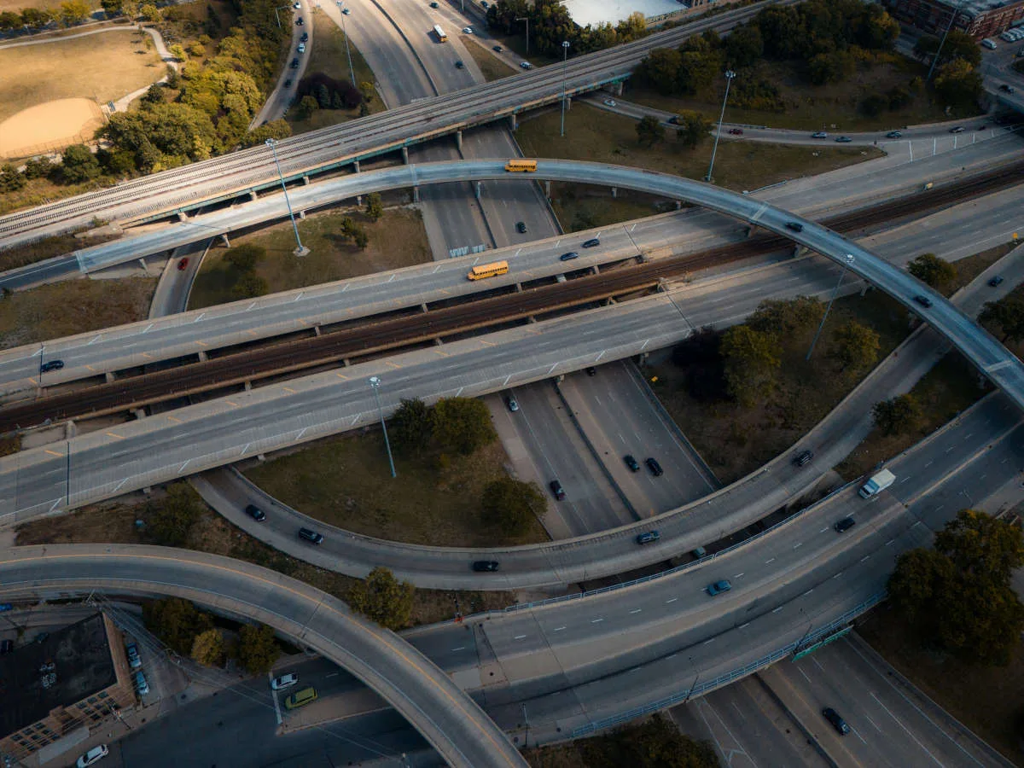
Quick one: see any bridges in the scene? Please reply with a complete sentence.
Yes, the picture does show a bridge.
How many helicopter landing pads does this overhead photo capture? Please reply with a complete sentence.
The picture shows no helicopter landing pads.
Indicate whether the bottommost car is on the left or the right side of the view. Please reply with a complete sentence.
You can find the bottommost car on the left side of the picture.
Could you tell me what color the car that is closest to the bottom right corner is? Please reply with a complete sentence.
The car that is closest to the bottom right corner looks black in the image.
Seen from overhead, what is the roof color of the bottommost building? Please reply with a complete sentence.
The color of the roof on the bottommost building is black.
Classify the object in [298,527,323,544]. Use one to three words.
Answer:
car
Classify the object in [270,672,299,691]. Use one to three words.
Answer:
car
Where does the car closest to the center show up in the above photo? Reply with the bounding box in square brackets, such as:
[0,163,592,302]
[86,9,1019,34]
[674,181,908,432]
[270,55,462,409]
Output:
[506,395,518,410]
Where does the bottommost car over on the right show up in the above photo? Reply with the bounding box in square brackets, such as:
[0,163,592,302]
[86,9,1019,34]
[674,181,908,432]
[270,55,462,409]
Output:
[821,707,852,738]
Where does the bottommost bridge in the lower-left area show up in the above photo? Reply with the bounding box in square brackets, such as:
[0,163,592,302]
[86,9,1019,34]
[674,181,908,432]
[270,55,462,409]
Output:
[0,543,532,768]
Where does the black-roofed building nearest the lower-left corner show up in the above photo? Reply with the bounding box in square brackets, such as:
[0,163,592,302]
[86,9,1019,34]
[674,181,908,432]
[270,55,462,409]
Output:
[0,611,132,766]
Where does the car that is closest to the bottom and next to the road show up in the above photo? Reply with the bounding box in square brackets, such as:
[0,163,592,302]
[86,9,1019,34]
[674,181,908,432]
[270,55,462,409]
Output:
[72,741,112,768]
